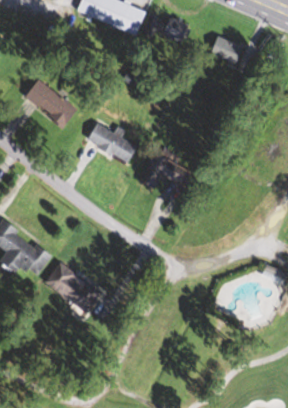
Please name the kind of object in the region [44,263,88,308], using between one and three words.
house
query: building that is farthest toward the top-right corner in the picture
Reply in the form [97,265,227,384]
[212,36,241,64]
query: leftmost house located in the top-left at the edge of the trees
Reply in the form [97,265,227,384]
[26,82,80,131]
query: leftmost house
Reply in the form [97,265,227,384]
[0,218,51,276]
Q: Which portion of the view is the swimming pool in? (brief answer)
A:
bottom right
